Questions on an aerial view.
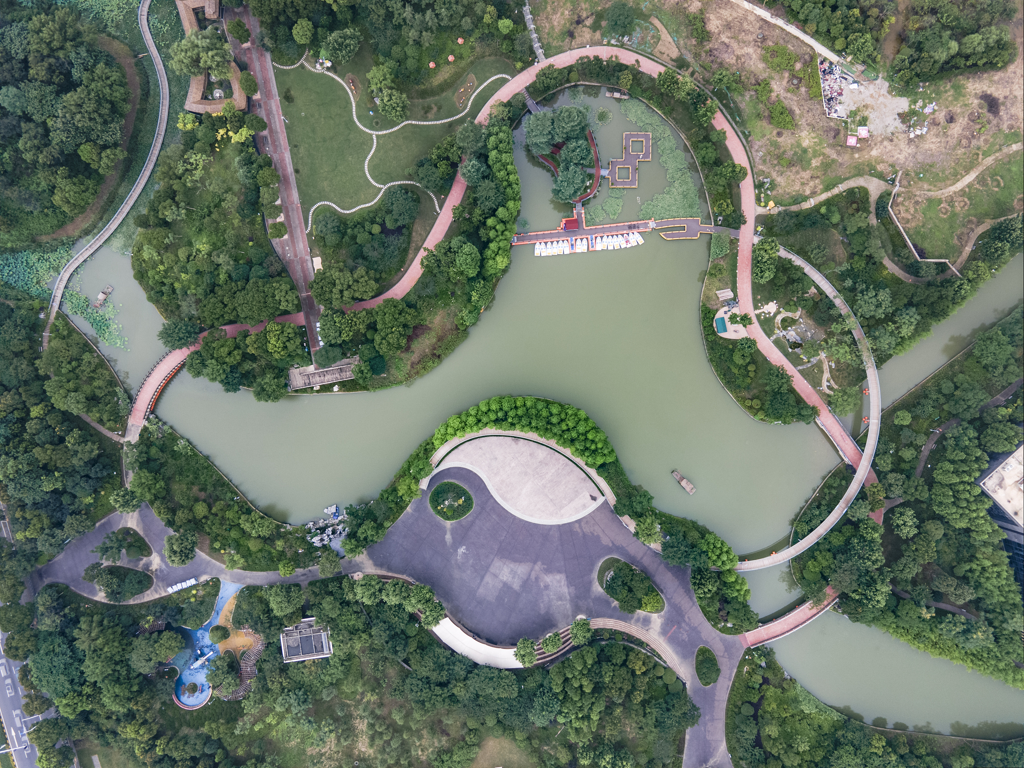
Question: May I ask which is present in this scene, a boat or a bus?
boat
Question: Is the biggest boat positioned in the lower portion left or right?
right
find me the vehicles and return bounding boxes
[0,656,11,676]
[186,578,192,586]
[167,585,174,593]
[4,677,17,697]
[181,580,187,588]
[20,734,33,754]
[172,583,178,591]
[177,581,183,590]
[13,708,26,728]
[191,576,199,585]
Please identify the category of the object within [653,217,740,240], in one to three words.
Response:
pier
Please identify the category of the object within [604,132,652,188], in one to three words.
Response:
pier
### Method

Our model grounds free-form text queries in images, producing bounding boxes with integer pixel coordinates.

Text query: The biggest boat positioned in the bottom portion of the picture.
[673,468,694,494]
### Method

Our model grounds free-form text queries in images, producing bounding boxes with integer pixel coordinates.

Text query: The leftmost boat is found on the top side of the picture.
[94,286,112,307]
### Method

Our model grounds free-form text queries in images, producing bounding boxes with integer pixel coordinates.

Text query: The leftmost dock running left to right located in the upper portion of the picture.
[513,208,652,253]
